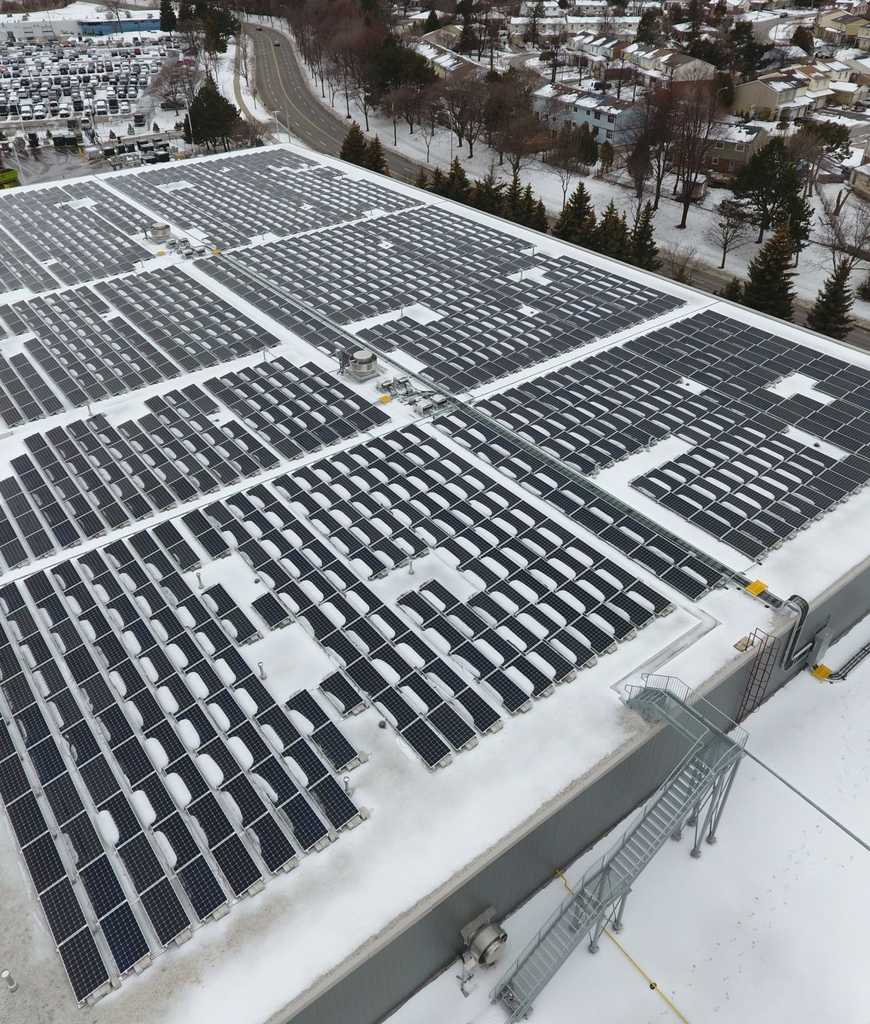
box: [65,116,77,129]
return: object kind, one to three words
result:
vehicle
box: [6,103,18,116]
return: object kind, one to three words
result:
vehicle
